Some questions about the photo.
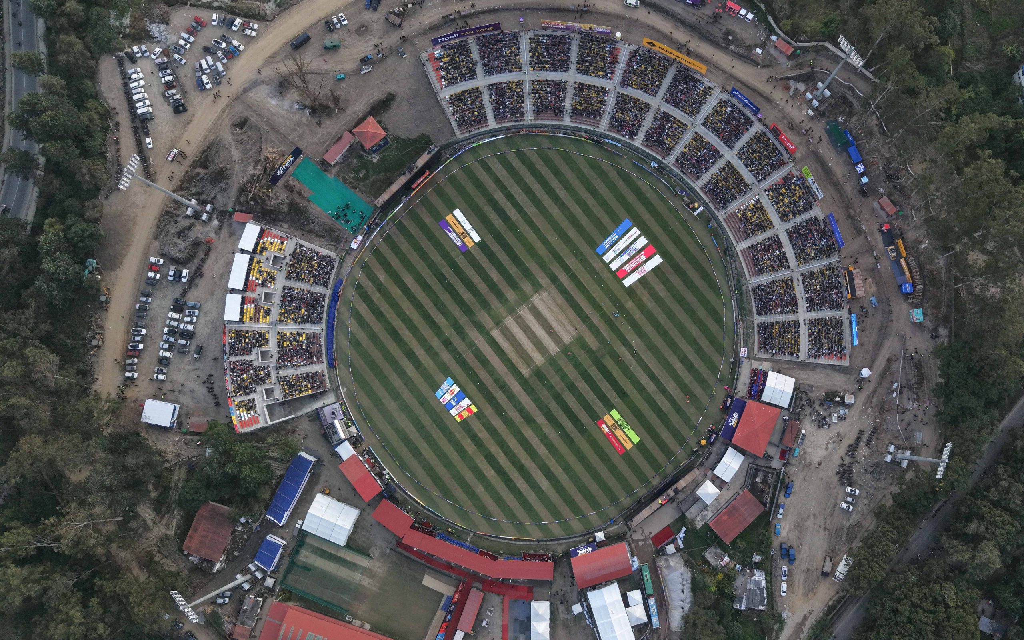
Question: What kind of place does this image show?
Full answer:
This looks like a sports ground.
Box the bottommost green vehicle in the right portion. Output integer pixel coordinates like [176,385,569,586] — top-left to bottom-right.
[640,562,653,595]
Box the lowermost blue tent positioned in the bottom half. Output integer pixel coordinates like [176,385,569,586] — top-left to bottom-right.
[254,536,286,571]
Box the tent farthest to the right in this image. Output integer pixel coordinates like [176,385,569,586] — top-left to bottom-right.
[761,371,795,409]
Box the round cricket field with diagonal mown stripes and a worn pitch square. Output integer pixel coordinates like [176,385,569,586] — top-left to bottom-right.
[335,134,735,539]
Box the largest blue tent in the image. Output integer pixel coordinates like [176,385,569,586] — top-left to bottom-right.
[265,454,317,526]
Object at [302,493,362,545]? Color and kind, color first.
white tent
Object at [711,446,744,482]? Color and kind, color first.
white tent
